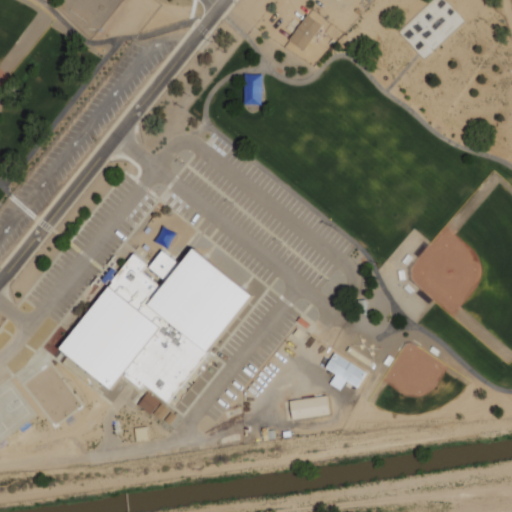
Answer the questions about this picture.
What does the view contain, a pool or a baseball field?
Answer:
baseball field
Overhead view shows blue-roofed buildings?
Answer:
Yes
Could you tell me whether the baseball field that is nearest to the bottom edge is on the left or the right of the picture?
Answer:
right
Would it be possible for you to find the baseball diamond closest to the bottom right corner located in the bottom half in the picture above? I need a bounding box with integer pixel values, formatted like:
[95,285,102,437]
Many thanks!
[376,342,466,414]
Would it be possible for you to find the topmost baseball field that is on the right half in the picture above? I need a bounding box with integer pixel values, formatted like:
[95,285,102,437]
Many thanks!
[410,171,512,364]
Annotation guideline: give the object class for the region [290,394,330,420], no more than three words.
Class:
barn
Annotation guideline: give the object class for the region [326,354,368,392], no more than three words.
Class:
building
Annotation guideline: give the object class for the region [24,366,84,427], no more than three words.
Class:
sports court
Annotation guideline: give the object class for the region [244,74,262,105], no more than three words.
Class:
building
